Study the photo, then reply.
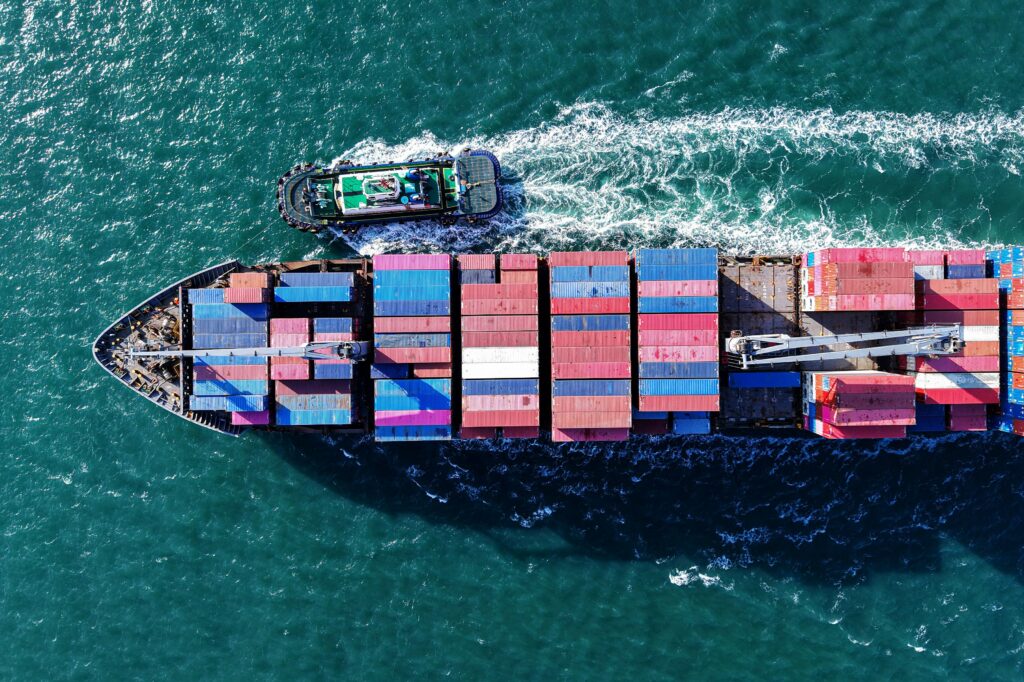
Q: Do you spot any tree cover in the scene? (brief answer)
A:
No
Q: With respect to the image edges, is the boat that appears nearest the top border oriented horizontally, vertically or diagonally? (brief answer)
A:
horizontally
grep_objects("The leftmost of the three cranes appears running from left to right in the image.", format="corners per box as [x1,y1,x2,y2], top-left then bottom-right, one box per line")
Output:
[127,333,374,363]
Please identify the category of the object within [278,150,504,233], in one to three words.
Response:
boat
